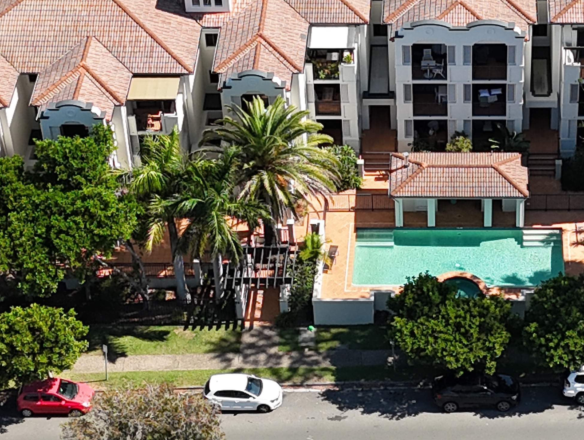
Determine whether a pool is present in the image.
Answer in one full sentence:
Yes, there's a pool down there.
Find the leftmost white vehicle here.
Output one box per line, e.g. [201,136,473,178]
[195,370,282,412]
